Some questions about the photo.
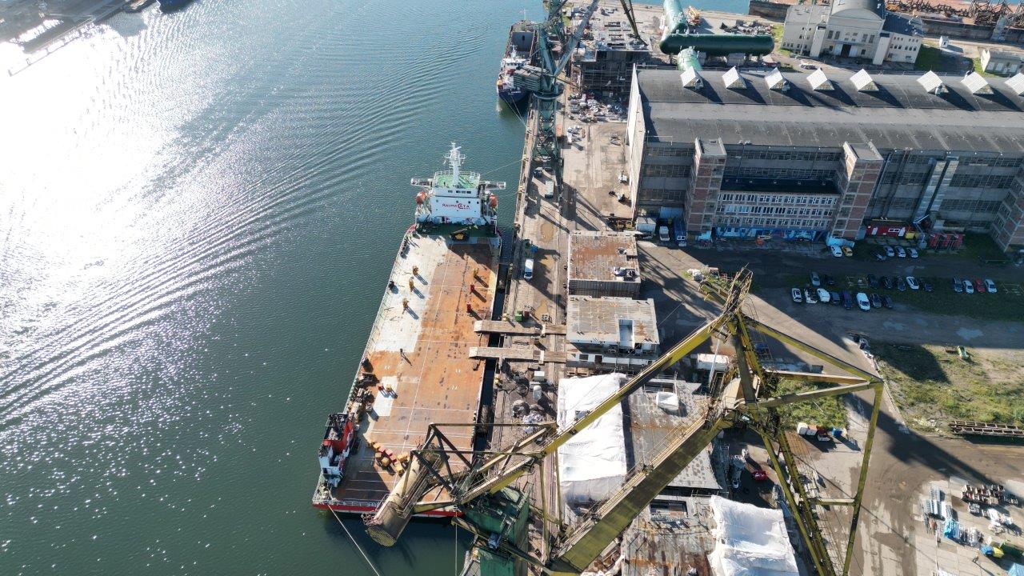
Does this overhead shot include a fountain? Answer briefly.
No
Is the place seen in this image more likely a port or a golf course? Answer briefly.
port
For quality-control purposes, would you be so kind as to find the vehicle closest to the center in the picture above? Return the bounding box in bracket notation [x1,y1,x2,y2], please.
[522,258,536,283]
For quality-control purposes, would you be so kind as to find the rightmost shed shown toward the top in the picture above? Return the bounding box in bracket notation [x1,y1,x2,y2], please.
[977,44,1024,76]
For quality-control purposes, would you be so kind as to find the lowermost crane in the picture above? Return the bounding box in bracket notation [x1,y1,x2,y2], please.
[358,250,887,576]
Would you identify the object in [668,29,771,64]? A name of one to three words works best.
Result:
storage tank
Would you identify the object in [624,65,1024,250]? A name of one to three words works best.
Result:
building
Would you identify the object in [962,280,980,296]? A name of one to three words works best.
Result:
car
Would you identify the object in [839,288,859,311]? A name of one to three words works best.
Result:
vehicle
